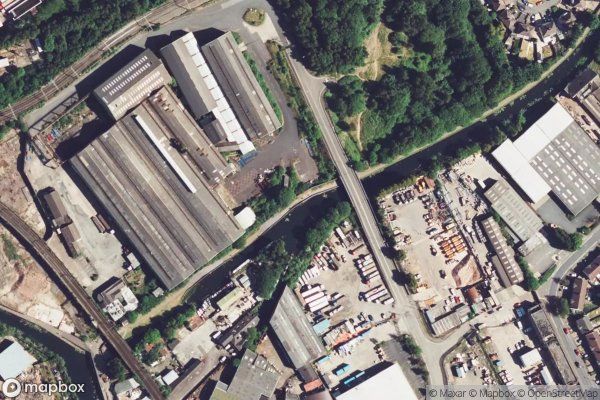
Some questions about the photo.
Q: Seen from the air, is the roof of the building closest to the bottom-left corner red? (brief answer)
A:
No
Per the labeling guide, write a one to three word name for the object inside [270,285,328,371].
shed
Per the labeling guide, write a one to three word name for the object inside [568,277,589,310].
house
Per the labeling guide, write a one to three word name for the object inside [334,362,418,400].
building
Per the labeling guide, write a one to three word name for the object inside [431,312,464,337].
shed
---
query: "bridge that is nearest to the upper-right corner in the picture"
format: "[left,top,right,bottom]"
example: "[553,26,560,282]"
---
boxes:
[316,117,395,278]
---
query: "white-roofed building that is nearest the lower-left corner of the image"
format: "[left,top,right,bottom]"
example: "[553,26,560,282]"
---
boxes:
[0,341,36,382]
